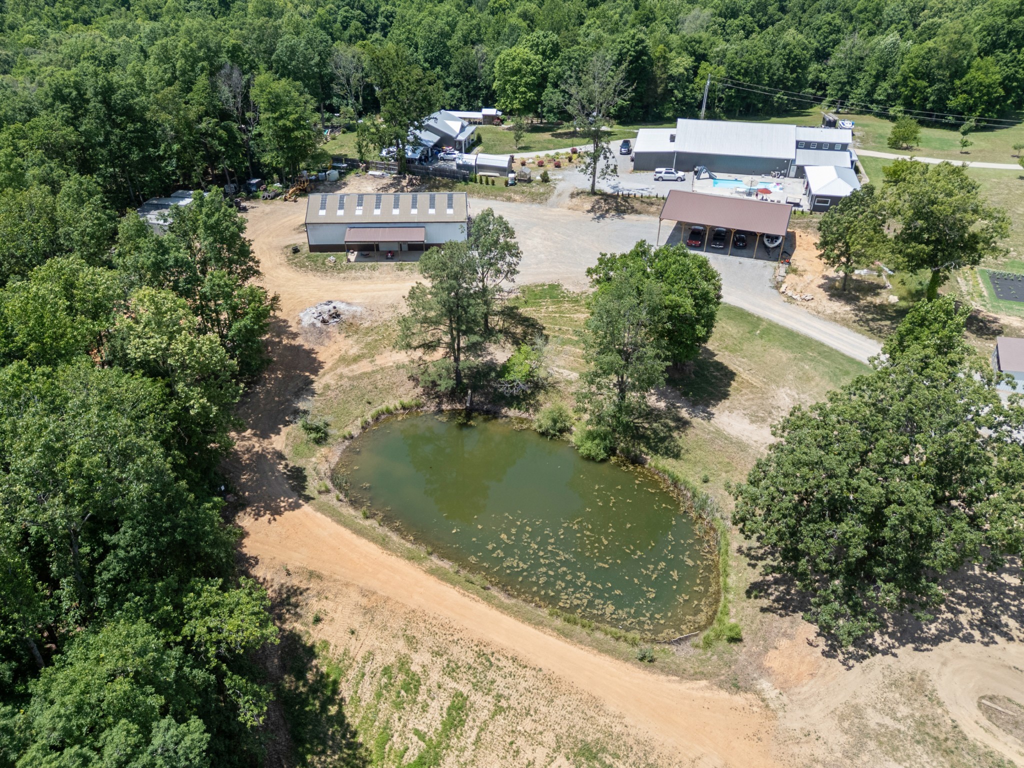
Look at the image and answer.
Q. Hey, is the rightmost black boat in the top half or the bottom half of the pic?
top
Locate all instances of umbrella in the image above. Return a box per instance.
[757,180,777,198]
[742,172,765,196]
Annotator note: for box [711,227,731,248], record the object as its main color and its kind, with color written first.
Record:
black vehicle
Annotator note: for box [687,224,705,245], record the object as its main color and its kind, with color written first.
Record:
black vehicle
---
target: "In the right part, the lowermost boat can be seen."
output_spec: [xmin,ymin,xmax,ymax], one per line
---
[761,233,782,264]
